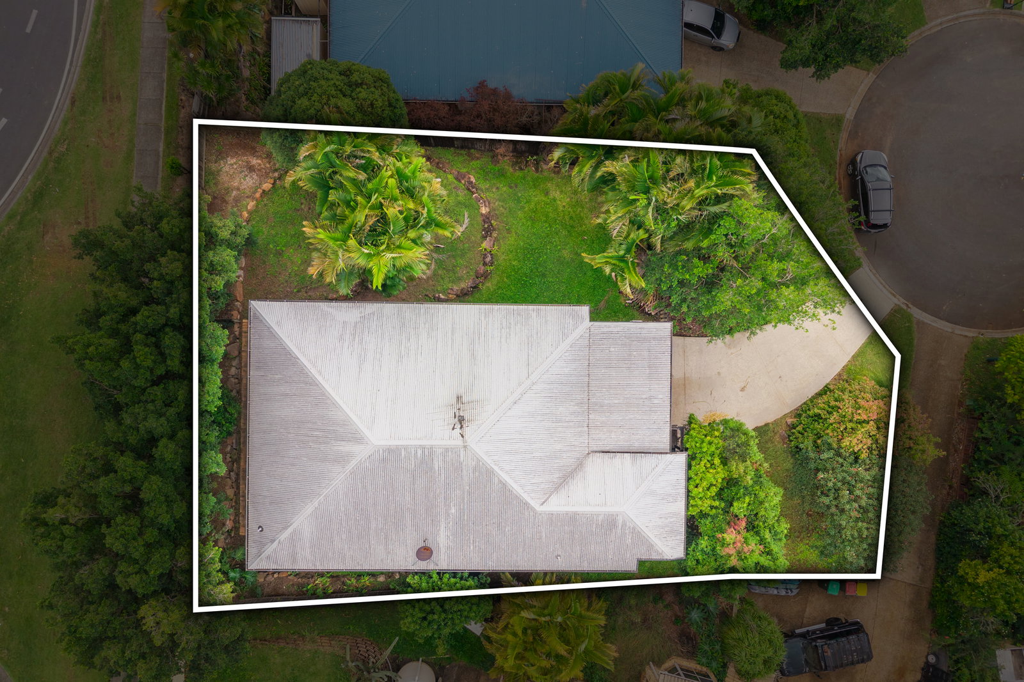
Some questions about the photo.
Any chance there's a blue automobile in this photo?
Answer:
No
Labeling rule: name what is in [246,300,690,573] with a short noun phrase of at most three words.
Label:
house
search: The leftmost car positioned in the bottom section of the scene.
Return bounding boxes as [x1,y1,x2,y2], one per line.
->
[777,620,876,679]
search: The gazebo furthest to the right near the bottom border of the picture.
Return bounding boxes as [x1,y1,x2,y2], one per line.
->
[649,643,714,682]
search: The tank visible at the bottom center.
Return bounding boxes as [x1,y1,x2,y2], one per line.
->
[399,654,438,682]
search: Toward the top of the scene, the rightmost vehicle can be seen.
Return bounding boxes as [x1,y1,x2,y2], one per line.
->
[849,151,896,234]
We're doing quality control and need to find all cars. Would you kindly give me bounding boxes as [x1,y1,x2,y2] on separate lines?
[777,620,876,679]
[685,1,734,48]
[849,151,896,234]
